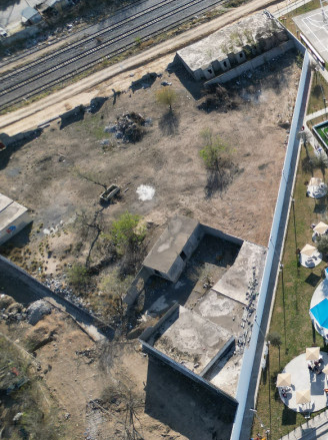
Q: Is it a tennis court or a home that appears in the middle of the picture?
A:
home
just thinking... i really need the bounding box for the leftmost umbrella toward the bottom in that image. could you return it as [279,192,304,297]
[275,373,294,391]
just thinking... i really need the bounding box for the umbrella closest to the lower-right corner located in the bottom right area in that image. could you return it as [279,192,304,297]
[295,389,313,408]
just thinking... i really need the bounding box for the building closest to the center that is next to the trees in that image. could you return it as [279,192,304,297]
[142,216,208,287]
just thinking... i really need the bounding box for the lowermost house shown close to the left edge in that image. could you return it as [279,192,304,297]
[0,193,36,245]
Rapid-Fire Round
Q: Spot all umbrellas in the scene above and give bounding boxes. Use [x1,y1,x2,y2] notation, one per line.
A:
[299,242,319,260]
[295,389,313,408]
[310,177,324,190]
[275,373,294,391]
[305,346,322,364]
[311,223,328,239]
